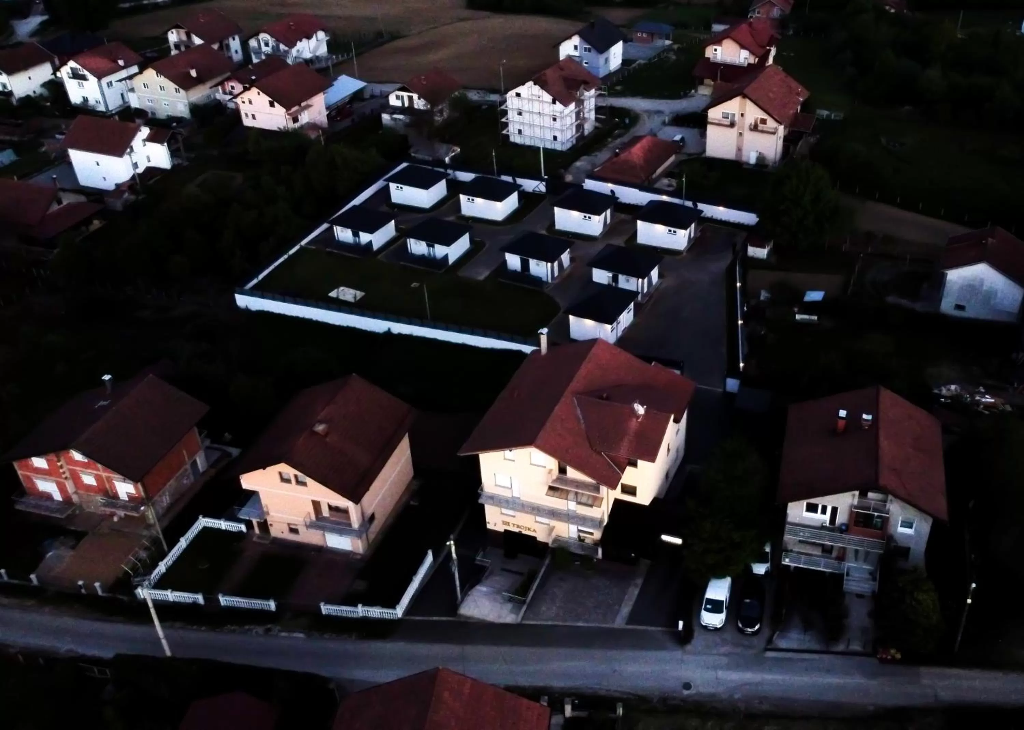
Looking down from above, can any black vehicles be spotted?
Yes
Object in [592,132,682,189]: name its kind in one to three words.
building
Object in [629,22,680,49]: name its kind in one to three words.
shed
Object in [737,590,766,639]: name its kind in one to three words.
car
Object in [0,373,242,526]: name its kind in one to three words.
house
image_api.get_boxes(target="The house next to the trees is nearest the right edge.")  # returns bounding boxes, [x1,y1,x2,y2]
[938,225,1024,323]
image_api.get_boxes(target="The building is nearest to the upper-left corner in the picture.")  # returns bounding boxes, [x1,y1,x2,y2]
[0,41,56,100]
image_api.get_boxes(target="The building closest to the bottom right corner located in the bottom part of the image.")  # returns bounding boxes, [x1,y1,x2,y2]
[777,384,951,606]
